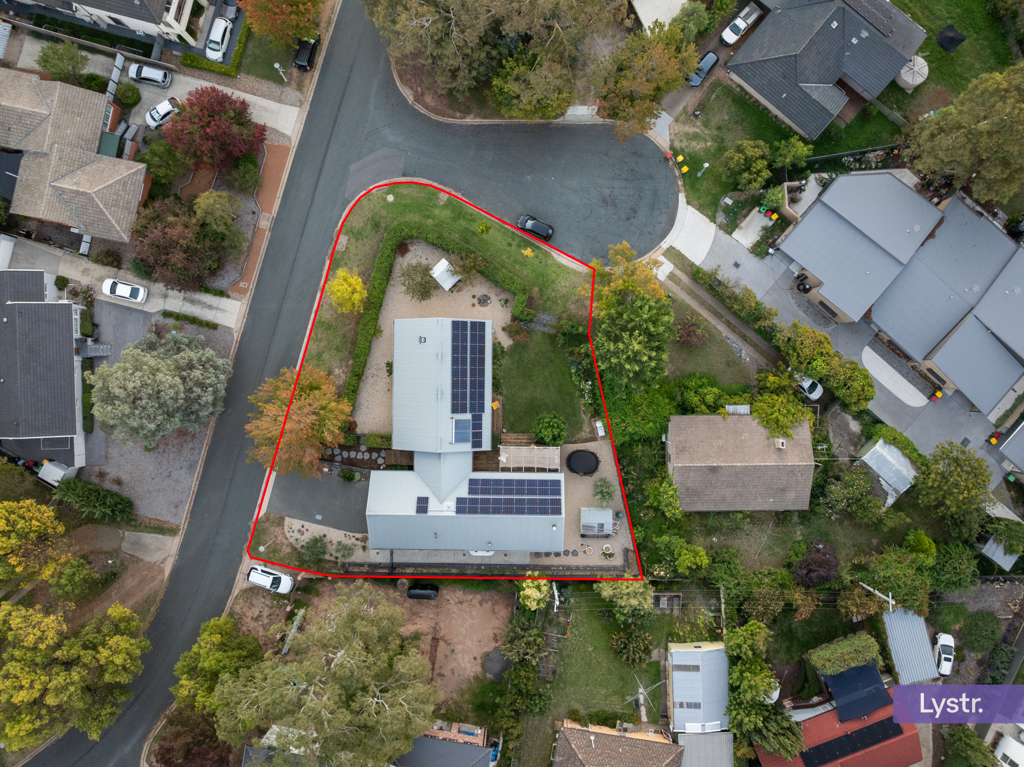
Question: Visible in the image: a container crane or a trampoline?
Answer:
trampoline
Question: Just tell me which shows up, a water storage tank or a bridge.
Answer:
water storage tank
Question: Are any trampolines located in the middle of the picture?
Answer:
Yes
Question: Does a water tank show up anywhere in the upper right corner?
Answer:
Yes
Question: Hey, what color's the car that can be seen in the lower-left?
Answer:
white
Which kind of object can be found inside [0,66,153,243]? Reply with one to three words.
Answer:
house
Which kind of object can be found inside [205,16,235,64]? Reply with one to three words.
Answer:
car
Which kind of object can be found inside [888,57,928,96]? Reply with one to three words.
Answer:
water tank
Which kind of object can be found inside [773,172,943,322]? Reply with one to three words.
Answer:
house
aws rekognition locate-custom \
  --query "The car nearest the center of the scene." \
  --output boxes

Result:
[515,213,557,243]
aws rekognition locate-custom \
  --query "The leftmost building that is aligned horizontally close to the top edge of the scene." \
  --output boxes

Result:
[65,0,213,63]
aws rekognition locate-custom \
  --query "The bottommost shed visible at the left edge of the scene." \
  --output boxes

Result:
[38,459,76,486]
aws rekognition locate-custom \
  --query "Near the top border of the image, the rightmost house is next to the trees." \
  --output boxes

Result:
[725,0,935,142]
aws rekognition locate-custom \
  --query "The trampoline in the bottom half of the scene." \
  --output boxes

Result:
[566,449,601,478]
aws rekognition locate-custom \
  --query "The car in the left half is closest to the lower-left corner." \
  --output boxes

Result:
[244,564,296,596]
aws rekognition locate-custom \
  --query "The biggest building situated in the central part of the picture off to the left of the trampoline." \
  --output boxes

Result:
[366,317,565,552]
